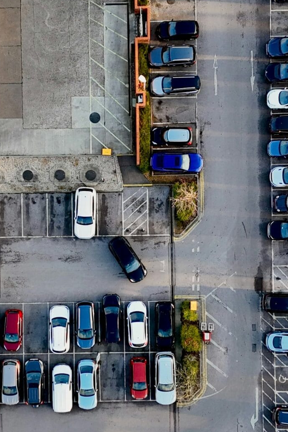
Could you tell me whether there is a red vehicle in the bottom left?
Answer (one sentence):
Yes, in the bottom left there is a red vehicle.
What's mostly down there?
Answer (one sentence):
The scene is dominated by paved ground.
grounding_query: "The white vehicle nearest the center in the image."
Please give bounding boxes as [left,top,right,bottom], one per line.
[74,186,97,238]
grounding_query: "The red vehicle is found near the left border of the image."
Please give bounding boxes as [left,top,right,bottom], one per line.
[2,308,24,351]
